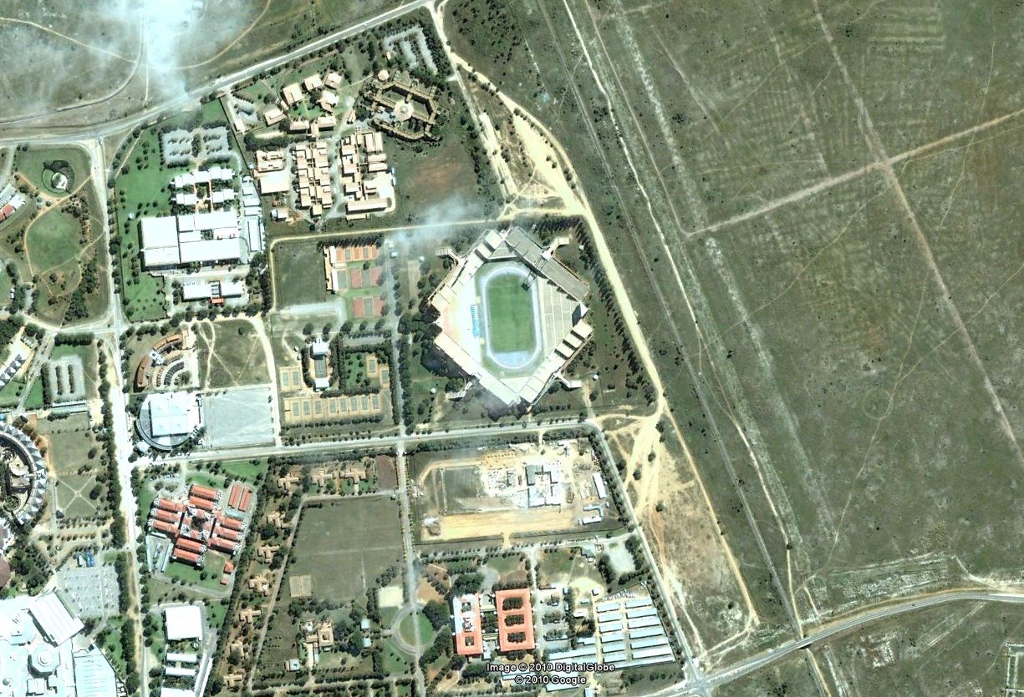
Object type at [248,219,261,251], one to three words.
shed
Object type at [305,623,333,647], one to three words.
house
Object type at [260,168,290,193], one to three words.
building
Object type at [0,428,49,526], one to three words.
building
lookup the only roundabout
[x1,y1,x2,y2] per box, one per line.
[393,609,437,653]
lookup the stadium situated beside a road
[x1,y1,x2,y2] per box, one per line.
[426,225,594,407]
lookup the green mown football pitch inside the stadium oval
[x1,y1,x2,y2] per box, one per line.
[488,274,532,365]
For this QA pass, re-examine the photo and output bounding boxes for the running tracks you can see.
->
[481,266,539,371]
